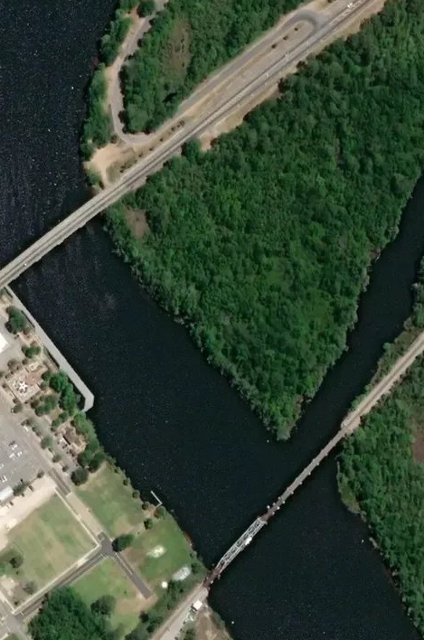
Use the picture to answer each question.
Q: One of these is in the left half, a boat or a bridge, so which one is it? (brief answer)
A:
bridge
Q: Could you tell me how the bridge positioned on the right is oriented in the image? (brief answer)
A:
diagonally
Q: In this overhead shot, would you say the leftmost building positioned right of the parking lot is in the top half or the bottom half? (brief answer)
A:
bottom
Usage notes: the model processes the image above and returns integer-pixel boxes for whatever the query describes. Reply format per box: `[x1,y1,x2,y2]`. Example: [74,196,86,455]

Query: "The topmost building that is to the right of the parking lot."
[59,425,88,449]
